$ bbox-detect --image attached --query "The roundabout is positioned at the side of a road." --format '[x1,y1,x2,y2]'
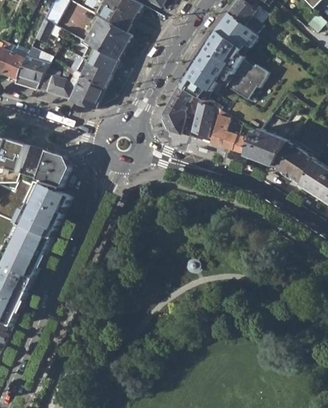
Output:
[95,116,157,171]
